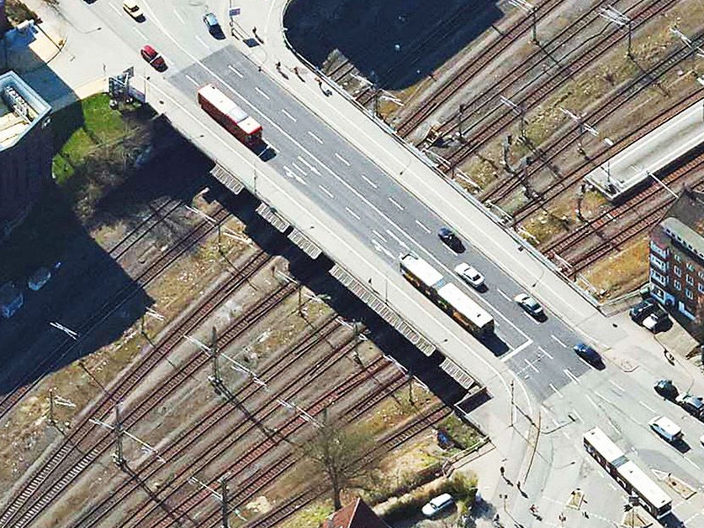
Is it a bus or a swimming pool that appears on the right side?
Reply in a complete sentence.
There is a bus on the right side.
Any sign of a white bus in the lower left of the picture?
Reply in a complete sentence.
No, no white bus can be made out in the lower left of the picture.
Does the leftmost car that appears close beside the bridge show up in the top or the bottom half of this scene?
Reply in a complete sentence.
The leftmost car that appears close beside the bridge is in the top half of the image.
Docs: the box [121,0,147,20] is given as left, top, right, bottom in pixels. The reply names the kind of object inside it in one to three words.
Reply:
car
